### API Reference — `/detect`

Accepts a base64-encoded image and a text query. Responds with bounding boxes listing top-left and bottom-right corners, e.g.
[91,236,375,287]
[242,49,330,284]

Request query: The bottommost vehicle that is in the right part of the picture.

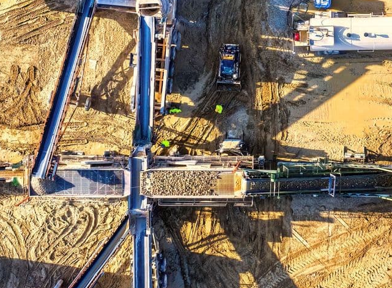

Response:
[222,100,249,156]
